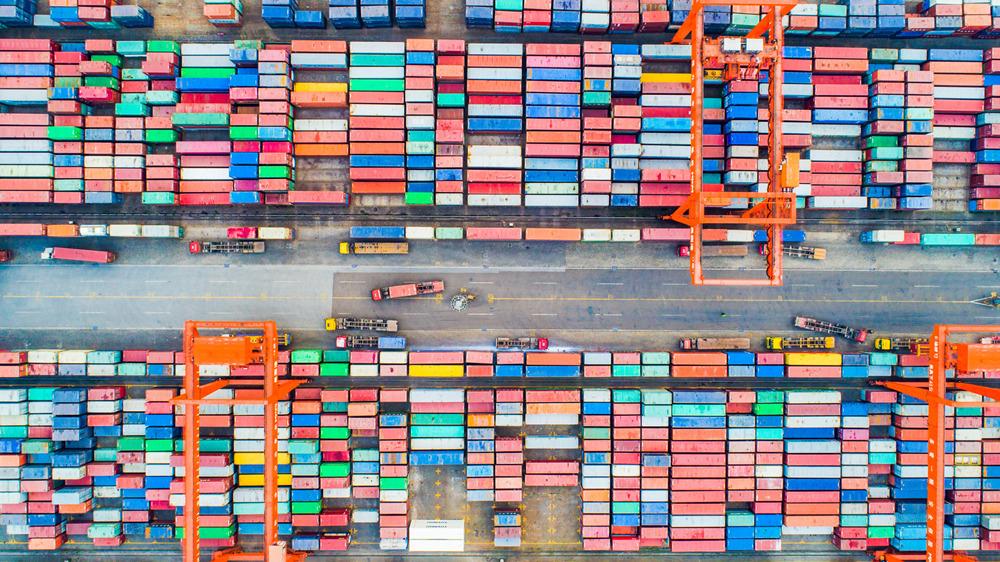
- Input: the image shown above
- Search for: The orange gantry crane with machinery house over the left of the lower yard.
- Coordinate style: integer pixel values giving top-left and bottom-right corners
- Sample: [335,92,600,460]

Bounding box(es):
[173,321,317,562]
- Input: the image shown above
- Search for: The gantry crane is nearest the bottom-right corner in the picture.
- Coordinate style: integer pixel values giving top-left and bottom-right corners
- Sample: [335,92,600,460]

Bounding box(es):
[867,325,1000,562]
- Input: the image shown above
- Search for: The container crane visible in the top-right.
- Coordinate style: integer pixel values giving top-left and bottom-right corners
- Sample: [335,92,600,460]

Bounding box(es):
[660,0,799,287]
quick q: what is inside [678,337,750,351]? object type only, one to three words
vehicle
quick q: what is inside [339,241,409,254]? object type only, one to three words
vehicle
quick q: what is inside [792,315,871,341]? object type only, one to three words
truck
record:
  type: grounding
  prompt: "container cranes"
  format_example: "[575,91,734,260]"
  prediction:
[660,0,799,287]
[173,321,317,562]
[867,325,1000,562]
